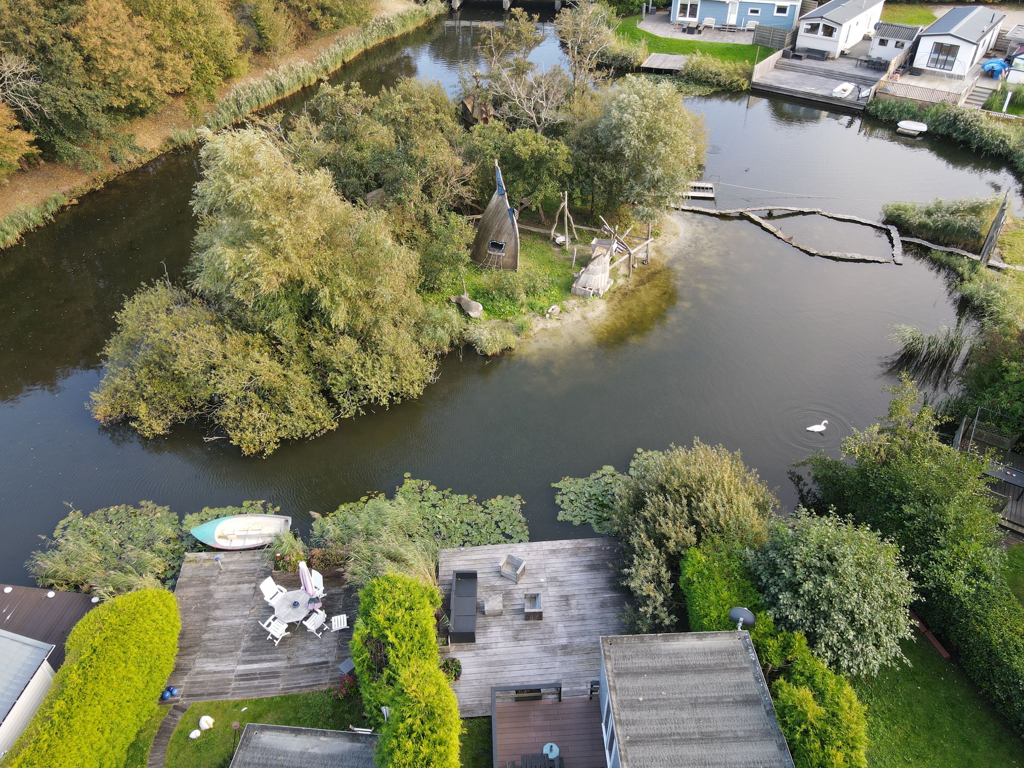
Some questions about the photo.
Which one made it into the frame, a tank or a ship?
ship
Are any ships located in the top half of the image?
Yes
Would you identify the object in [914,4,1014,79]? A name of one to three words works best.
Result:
house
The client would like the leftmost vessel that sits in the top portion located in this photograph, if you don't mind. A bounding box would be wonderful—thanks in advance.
[471,159,520,273]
